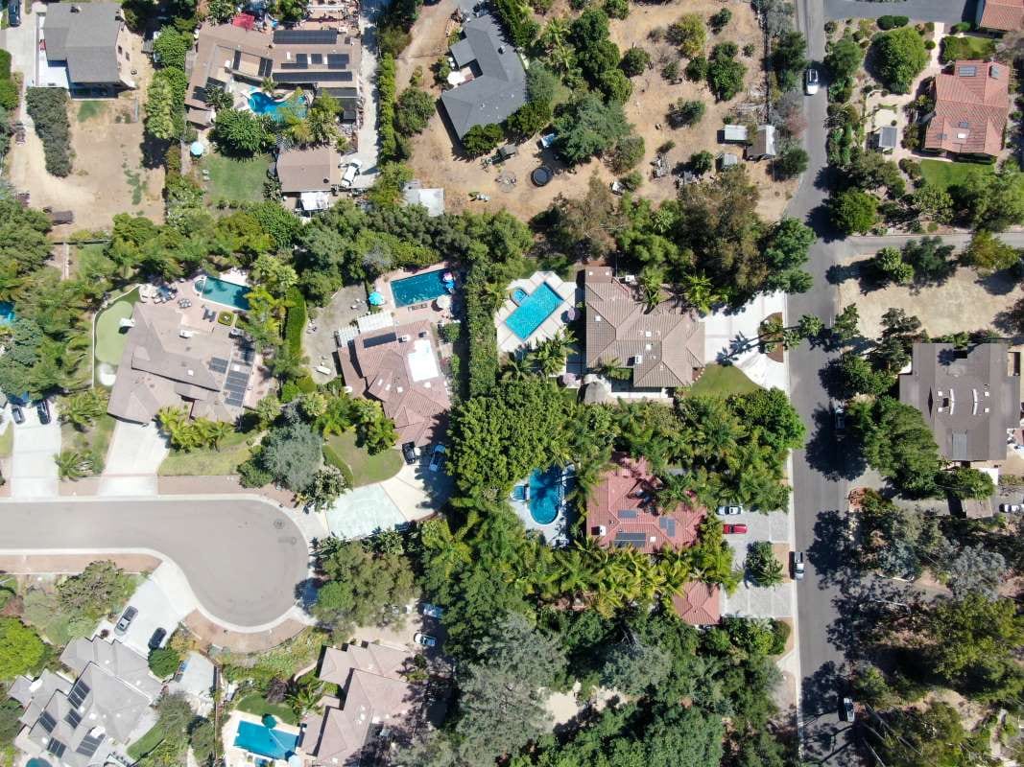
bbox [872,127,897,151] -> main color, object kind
gray gazebo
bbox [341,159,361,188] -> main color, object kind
white car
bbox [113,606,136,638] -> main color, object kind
gray vehicle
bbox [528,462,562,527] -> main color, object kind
blue swimming pool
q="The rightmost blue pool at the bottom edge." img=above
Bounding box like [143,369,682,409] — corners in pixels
[231,719,302,762]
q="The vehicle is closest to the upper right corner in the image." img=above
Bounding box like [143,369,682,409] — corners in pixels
[807,66,821,94]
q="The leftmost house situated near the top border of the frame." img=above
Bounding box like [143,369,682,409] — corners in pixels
[42,1,136,102]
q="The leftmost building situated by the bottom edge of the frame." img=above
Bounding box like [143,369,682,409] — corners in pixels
[6,633,170,767]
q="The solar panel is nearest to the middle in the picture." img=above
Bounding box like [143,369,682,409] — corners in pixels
[364,333,397,348]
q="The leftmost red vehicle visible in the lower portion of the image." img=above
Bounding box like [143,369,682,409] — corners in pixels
[723,524,750,536]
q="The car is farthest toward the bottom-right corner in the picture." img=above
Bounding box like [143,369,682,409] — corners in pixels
[843,698,857,725]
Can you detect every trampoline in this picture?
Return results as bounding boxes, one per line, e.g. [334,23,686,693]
[531,163,551,185]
